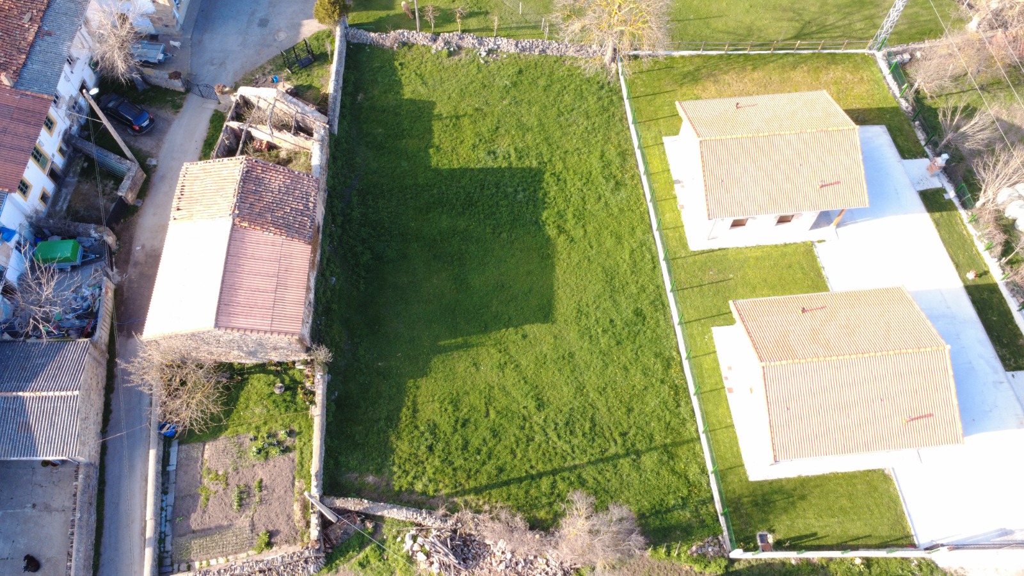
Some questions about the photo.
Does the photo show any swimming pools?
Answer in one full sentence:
No, there's no swimming pool here.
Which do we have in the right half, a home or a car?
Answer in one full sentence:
What appears in the right half is a home.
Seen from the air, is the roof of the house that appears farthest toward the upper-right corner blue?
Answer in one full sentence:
No, the color of the roof of the house that appears farthest toward the upper-right corner is white.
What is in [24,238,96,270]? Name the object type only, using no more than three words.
trailer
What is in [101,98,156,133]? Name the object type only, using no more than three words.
car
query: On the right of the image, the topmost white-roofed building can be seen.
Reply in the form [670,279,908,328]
[679,93,873,238]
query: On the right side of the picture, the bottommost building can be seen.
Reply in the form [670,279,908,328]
[730,292,970,469]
